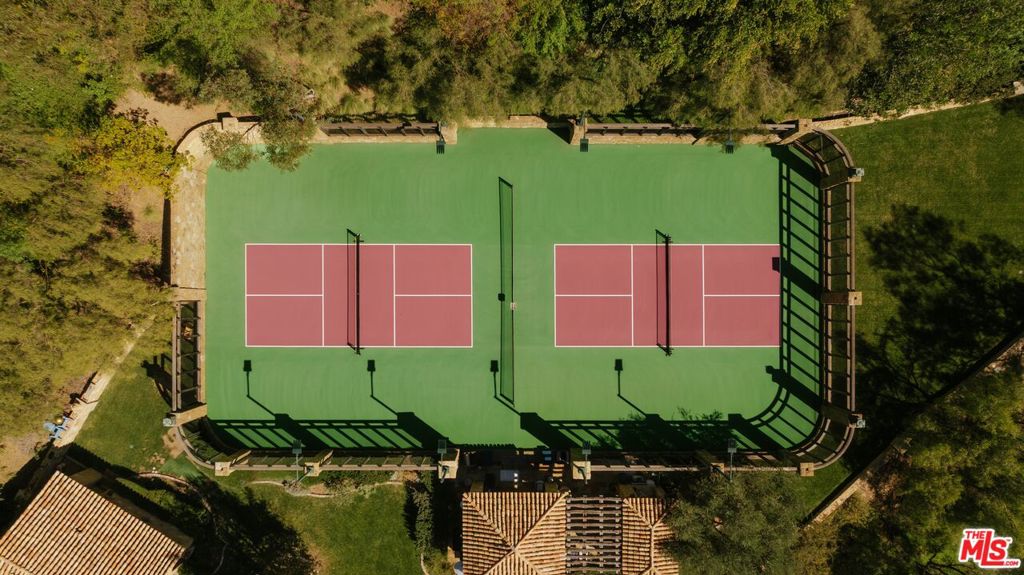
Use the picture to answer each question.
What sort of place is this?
sports ground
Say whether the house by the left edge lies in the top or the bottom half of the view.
bottom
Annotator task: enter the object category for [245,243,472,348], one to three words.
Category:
sports court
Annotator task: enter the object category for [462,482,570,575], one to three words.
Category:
building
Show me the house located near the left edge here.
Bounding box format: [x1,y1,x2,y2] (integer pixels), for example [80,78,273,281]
[0,466,205,575]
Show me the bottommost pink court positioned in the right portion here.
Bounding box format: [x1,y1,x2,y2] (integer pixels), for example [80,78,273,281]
[553,244,781,348]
